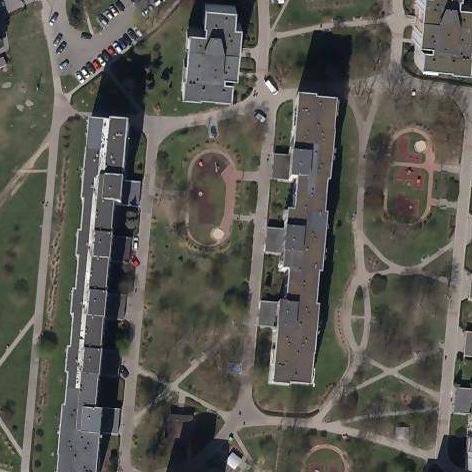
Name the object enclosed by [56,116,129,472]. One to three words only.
building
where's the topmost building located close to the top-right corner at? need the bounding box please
[412,0,472,81]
